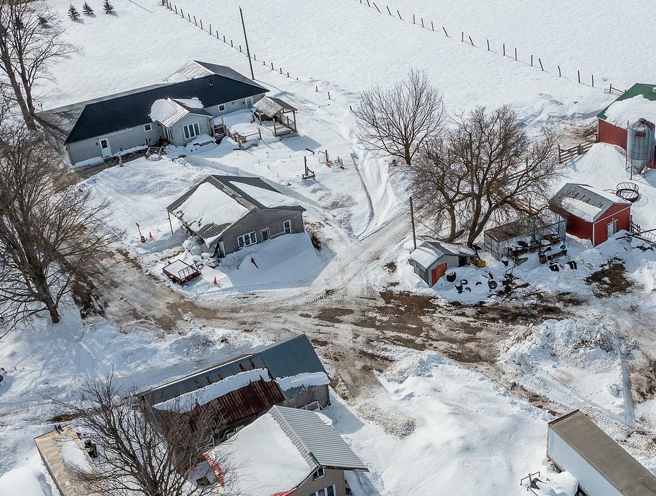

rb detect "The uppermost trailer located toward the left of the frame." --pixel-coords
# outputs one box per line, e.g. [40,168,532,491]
[162,260,200,287]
